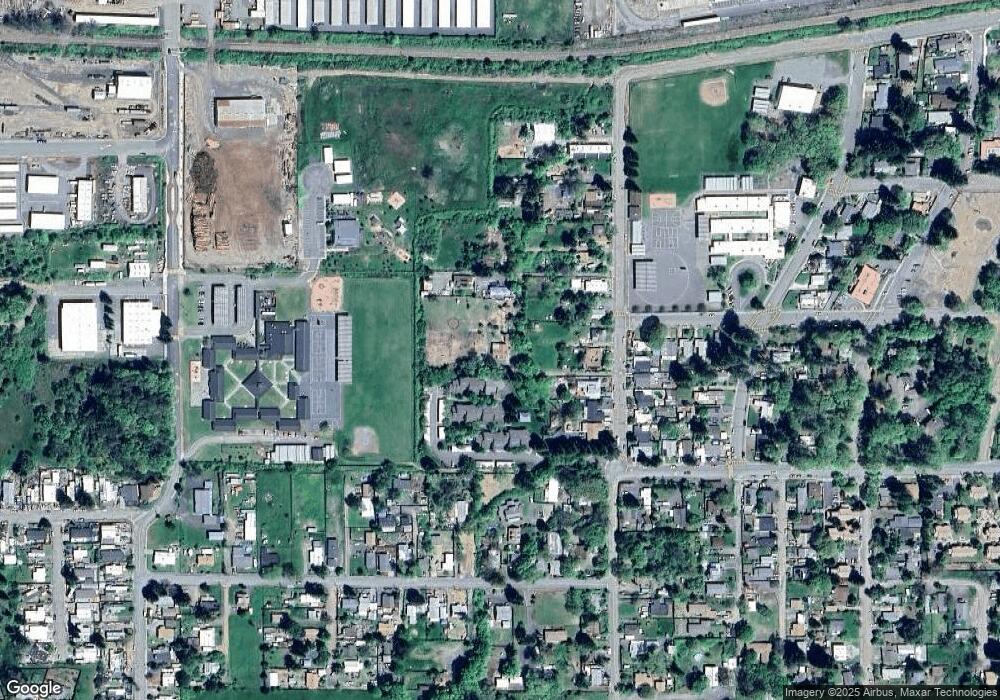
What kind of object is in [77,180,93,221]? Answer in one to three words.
building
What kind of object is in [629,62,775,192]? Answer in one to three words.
sports field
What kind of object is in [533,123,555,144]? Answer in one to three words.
house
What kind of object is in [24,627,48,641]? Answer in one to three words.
house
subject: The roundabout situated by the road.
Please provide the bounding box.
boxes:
[730,259,772,311]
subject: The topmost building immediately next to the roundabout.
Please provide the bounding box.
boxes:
[697,196,790,259]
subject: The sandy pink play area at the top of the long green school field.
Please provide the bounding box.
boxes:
[311,277,343,311]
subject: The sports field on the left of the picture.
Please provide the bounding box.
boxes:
[341,280,413,465]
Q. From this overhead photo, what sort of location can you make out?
residential area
